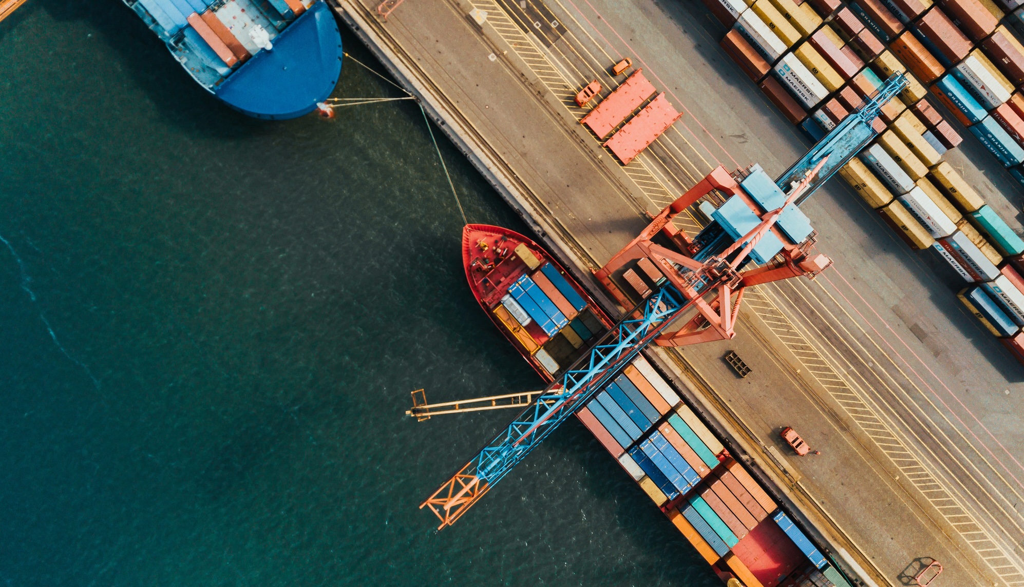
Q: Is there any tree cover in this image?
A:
No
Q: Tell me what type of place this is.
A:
port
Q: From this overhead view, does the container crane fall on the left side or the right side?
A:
right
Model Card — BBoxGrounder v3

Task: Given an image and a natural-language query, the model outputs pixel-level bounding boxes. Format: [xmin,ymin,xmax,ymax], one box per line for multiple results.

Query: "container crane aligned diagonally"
[416,72,917,540]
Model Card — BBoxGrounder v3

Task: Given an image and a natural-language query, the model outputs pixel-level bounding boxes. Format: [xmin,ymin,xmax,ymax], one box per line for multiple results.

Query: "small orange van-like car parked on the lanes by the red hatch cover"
[612,59,631,76]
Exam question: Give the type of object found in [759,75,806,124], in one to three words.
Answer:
shipping container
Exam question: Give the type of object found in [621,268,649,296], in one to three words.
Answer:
shipping container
